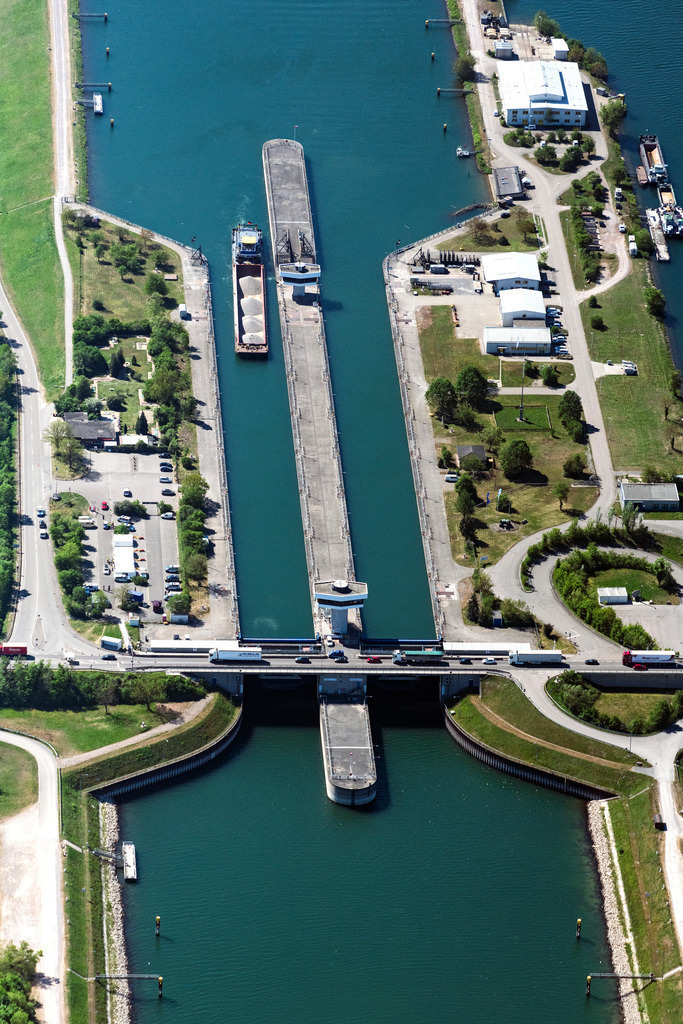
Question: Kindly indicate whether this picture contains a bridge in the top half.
No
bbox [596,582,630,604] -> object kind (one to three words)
shed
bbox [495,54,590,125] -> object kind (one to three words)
building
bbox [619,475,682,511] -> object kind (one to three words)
building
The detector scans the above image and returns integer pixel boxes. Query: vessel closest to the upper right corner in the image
[636,129,674,183]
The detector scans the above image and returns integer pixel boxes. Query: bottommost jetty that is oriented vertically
[122,837,137,878]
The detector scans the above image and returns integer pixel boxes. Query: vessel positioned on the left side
[233,216,270,357]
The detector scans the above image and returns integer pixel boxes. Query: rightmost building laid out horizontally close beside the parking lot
[149,638,242,653]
